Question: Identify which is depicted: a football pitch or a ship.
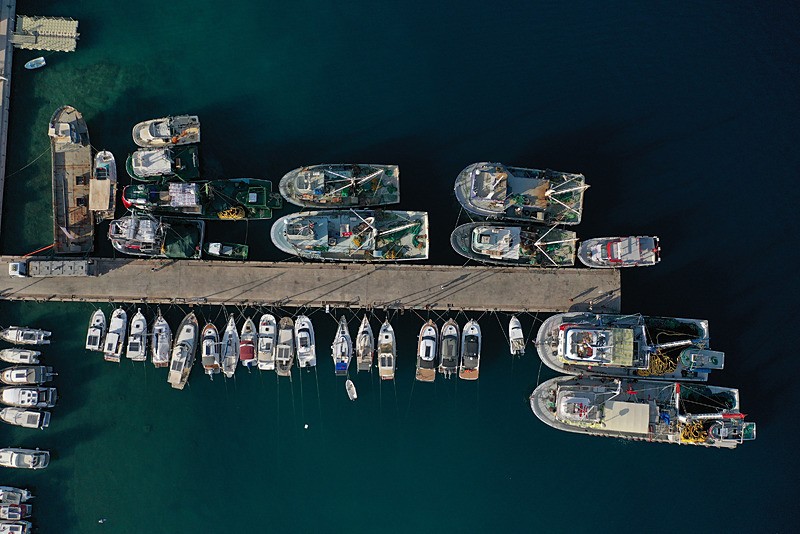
ship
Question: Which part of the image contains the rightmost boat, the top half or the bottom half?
bottom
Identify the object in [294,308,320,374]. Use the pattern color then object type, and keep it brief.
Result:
white boat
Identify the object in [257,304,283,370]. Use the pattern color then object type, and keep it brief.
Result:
white boat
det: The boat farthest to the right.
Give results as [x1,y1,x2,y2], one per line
[705,418,763,445]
